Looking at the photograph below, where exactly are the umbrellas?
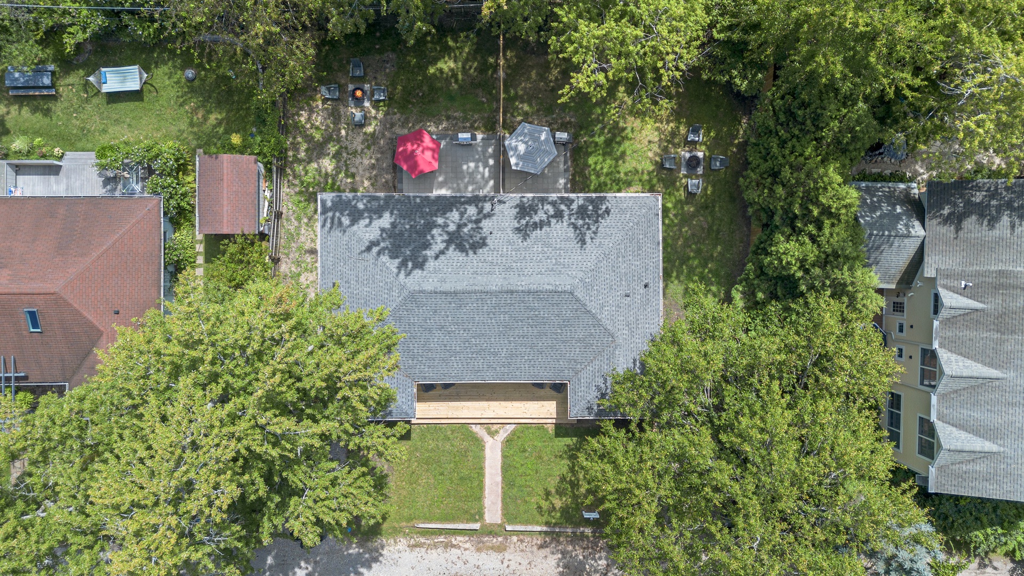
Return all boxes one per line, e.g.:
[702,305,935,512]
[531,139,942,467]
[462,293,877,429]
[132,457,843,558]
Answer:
[394,129,442,179]
[505,124,557,175]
